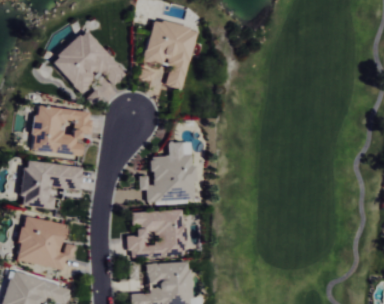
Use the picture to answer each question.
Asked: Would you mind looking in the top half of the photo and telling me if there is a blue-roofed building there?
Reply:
No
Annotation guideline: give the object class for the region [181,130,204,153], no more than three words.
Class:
swimming pool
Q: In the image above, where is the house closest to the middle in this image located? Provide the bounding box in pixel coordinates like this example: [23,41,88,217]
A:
[140,141,198,206]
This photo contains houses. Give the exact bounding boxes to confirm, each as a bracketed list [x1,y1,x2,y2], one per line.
[3,272,71,304]
[30,106,91,154]
[138,20,197,90]
[126,212,186,258]
[132,263,204,304]
[18,162,82,210]
[54,32,125,94]
[140,141,198,206]
[16,216,76,270]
